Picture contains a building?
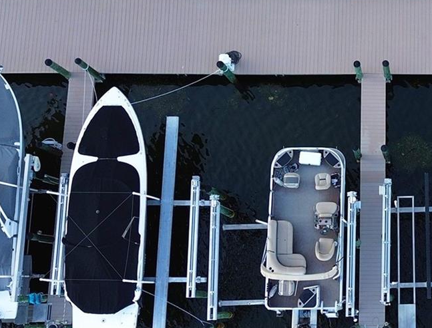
No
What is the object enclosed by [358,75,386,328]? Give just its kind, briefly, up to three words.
pier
